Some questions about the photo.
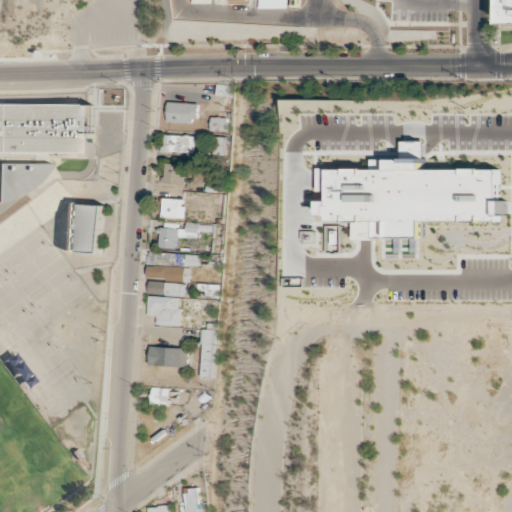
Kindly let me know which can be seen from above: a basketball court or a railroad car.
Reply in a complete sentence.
I can see a basketball court in this picture.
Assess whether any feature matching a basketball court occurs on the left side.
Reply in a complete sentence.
Yes, the scene does show a basketball court on the left side.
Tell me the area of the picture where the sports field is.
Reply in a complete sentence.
The sports field sits in the bottom left section of the image.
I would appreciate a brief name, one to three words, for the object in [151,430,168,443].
vehicle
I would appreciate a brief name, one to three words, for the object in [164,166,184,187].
house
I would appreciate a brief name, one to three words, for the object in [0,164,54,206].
building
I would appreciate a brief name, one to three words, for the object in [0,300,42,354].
basketball court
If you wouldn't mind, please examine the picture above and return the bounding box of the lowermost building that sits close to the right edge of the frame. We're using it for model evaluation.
[311,141,510,240]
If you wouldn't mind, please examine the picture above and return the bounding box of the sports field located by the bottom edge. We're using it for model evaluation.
[0,364,88,512]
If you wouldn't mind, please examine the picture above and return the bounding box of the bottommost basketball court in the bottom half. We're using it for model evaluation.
[22,331,68,376]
